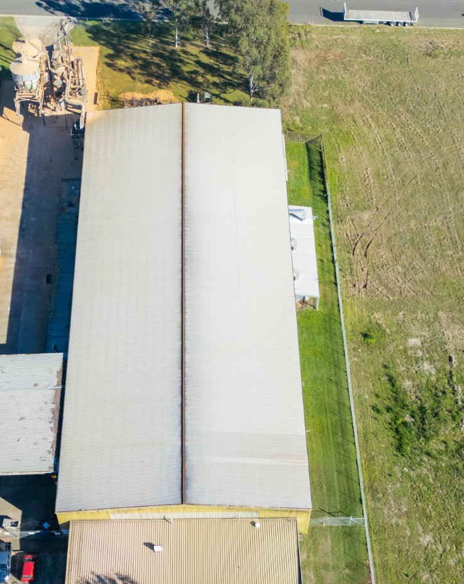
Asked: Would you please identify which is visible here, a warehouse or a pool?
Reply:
warehouse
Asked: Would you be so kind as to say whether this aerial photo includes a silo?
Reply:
Yes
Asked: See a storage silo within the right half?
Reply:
No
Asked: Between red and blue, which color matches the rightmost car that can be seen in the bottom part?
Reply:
red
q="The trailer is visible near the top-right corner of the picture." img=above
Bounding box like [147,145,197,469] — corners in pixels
[344,4,421,30]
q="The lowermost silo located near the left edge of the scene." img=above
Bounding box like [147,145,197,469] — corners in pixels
[10,56,48,125]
